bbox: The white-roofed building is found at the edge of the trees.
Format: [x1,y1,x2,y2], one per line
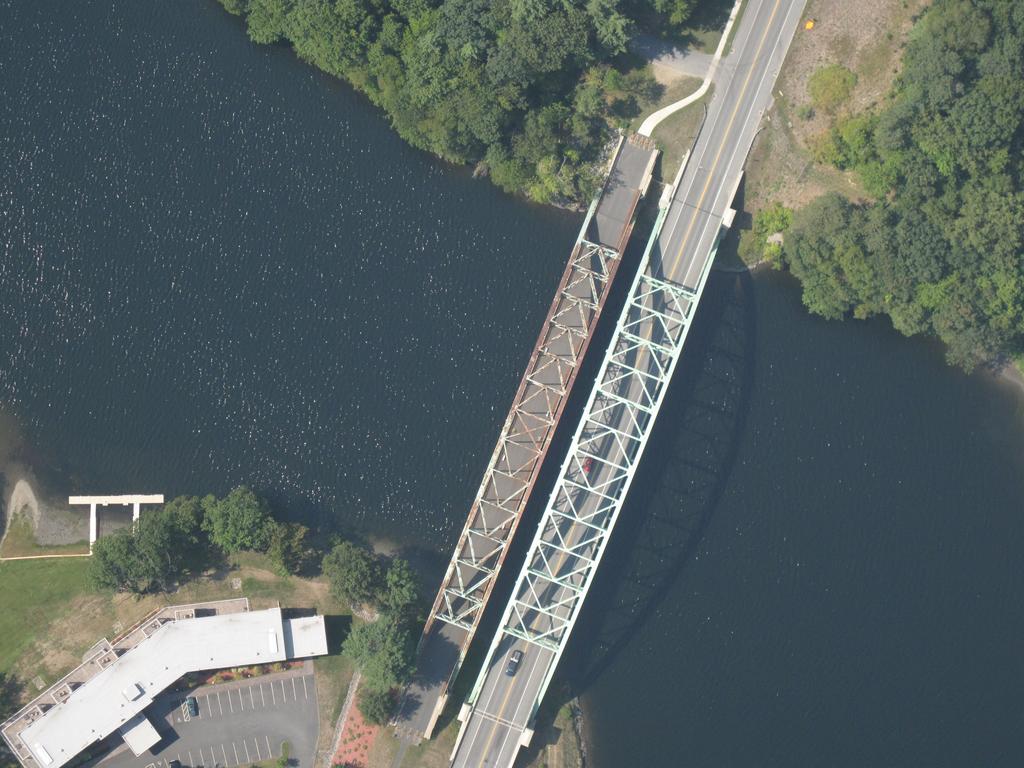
[0,597,334,768]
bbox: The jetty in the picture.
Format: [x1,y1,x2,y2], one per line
[69,495,165,553]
